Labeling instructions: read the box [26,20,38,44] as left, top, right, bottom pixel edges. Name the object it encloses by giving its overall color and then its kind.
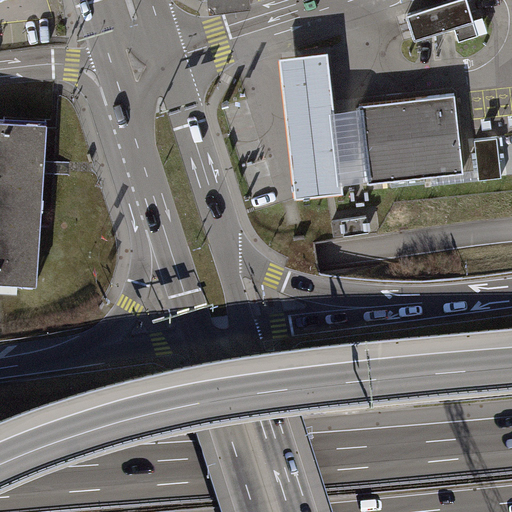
white vehicle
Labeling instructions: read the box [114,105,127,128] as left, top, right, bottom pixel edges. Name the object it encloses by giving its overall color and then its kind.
gray vehicle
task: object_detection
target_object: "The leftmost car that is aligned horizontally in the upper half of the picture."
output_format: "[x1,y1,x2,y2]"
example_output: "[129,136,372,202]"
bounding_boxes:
[250,193,276,206]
